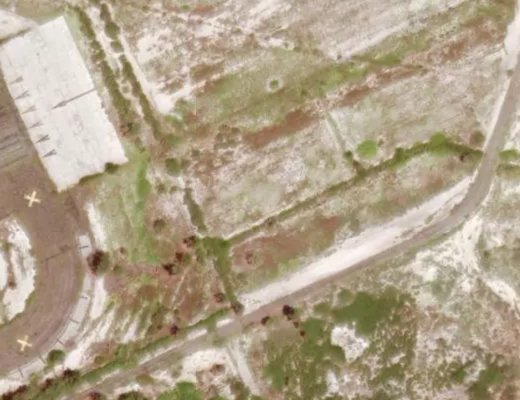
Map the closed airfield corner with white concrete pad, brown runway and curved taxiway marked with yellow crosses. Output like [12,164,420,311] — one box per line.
[0,17,127,387]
